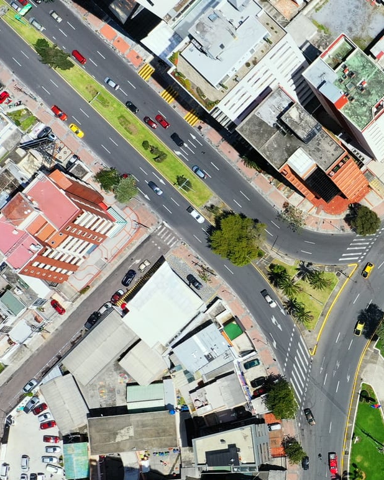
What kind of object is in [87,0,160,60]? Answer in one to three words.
building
